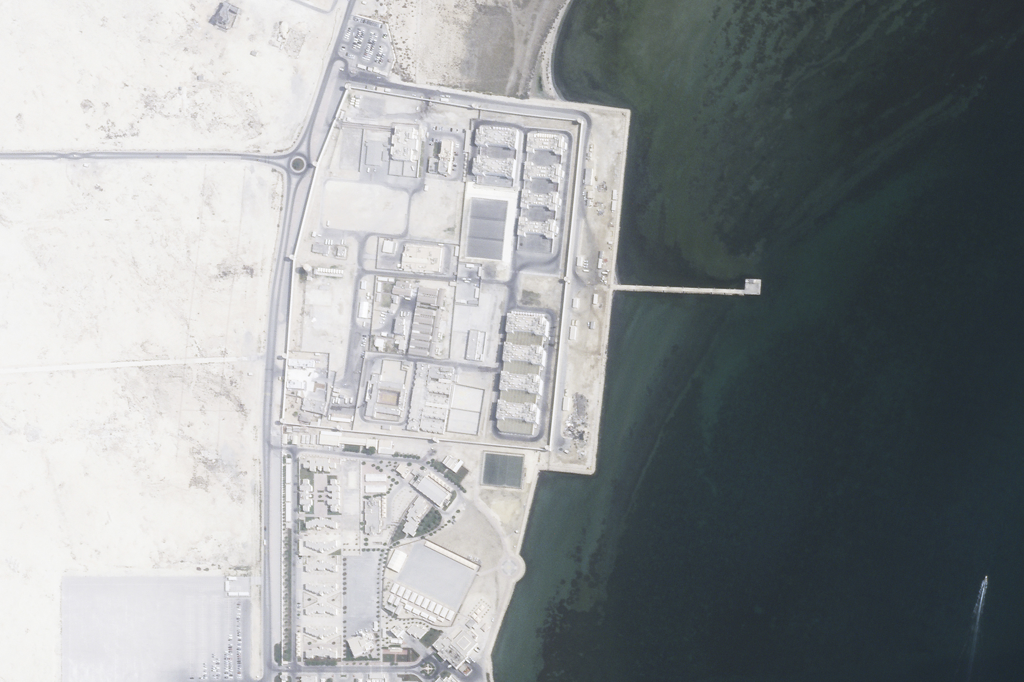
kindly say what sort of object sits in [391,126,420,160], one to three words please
building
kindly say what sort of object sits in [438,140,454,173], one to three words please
building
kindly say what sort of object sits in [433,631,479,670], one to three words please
house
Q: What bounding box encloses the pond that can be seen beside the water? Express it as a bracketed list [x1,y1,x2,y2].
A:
[479,450,527,492]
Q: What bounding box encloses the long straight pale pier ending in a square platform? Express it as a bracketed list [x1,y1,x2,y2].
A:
[612,279,761,296]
